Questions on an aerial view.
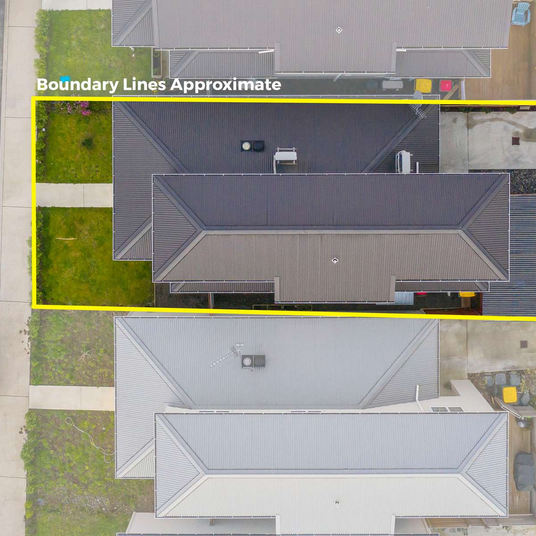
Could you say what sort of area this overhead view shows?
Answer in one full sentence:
What you see here is a residential area.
